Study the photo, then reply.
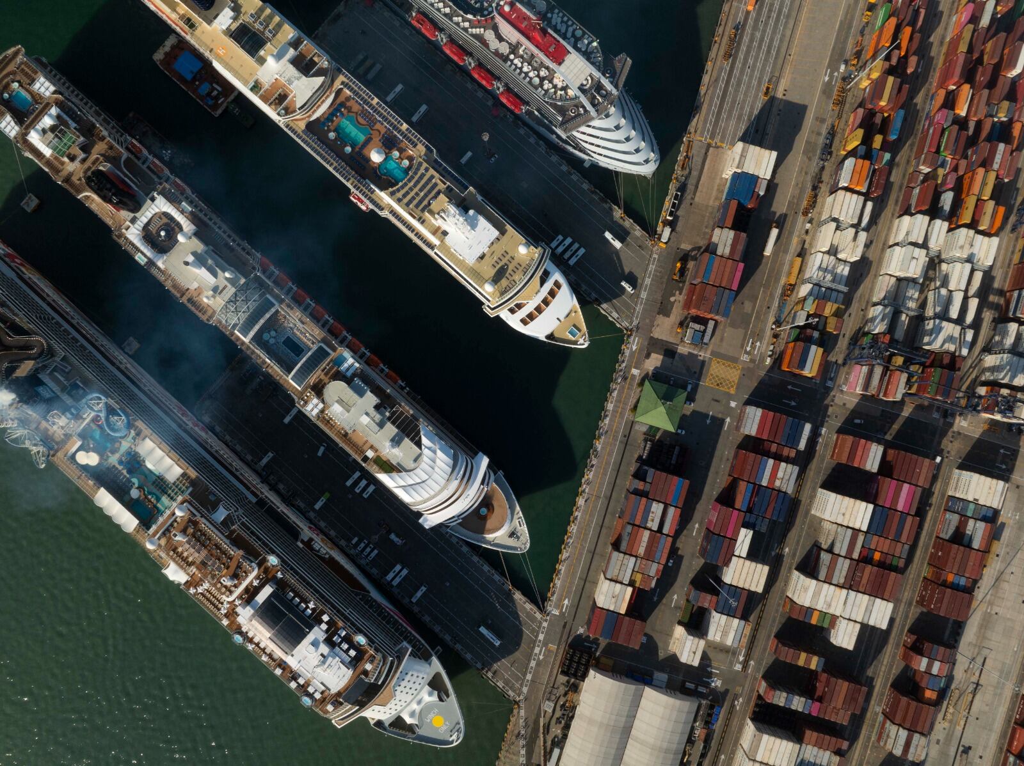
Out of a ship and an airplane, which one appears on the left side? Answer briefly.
ship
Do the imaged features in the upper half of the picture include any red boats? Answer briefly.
Yes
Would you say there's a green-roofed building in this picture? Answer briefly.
Yes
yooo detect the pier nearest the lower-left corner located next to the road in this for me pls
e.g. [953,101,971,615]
[197,351,542,700]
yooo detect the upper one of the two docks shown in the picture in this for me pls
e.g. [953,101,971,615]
[312,0,652,328]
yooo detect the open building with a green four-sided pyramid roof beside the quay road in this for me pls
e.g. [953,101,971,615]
[632,379,688,432]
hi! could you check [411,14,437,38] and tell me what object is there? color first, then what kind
red boat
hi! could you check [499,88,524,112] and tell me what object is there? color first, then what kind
red boat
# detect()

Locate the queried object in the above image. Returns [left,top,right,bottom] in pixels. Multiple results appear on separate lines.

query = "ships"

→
[367,0,660,179]
[0,237,465,749]
[152,33,242,119]
[125,111,184,168]
[0,45,530,554]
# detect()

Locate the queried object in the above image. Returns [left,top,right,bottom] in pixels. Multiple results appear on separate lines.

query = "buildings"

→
[558,662,699,766]
[632,379,688,432]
